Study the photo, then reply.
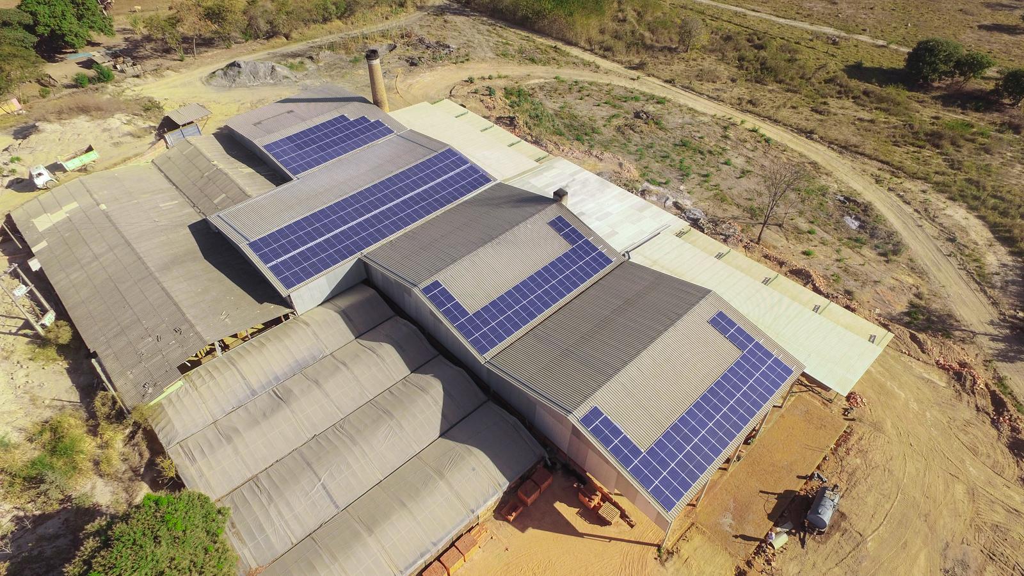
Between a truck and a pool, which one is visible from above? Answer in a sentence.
The one in the frame is a truck.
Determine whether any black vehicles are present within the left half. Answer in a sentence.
No, there is no black vehicle within the left half.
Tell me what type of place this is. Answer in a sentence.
It's an industrial area.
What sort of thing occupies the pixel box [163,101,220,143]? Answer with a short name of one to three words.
shed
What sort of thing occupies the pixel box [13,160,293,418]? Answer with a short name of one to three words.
shed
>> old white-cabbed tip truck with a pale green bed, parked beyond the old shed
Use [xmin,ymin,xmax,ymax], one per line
[32,150,98,190]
